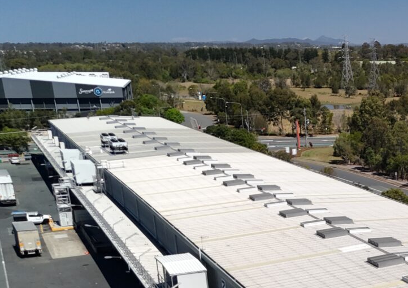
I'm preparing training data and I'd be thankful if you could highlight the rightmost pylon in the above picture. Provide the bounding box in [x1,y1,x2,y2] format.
[363,40,386,93]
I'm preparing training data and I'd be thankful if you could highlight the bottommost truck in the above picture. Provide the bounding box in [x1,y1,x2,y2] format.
[12,218,39,252]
